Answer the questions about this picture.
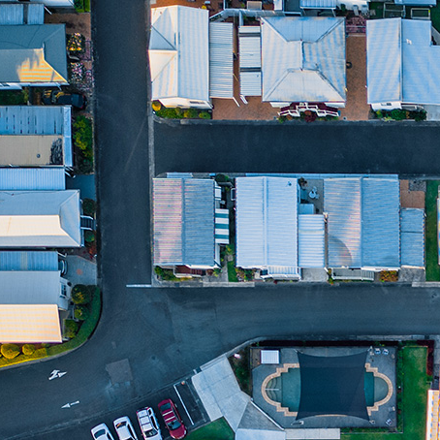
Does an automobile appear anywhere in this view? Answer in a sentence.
Yes, an automobile is visible in the scene.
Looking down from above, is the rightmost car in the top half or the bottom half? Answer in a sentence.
You can find the rightmost car in the bottom half.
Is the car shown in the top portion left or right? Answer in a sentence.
The car shown in the top portion appears in the left half of the scene.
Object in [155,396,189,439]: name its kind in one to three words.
car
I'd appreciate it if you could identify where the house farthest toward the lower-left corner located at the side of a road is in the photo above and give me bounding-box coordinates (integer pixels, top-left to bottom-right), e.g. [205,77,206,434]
[0,271,70,343]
